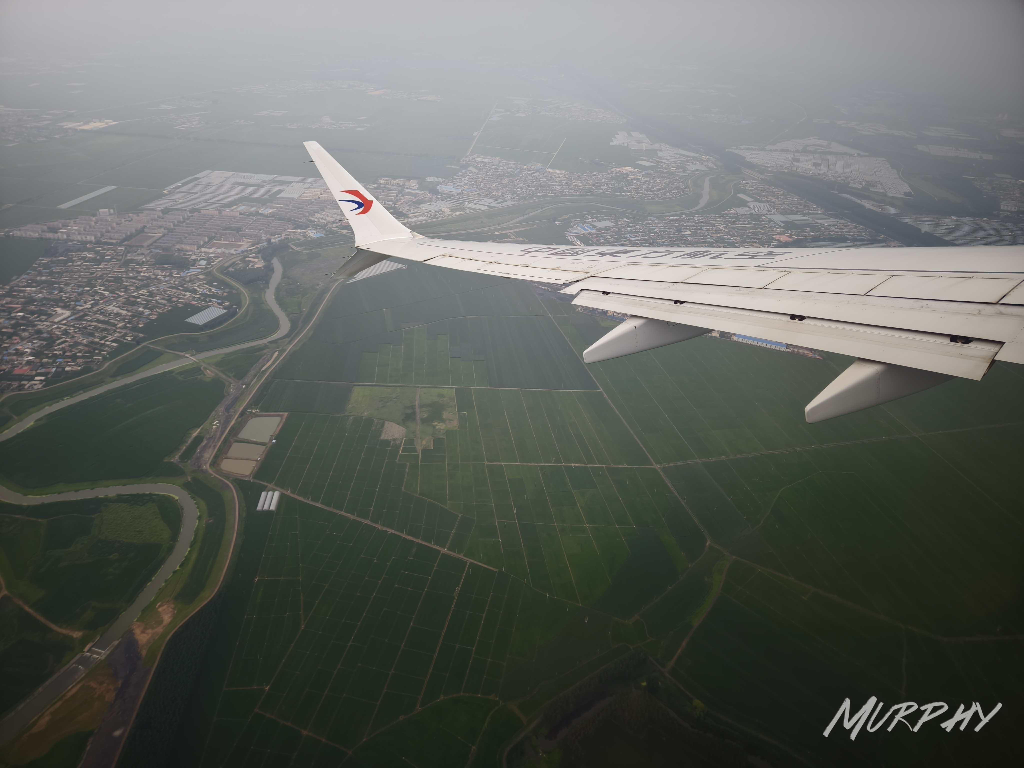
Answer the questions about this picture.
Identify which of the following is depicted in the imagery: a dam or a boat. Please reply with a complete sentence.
The one in the frame is a dam.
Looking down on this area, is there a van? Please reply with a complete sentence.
No, I can't see a single van in this photo.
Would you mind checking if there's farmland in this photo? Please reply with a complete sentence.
Yes, the picture does contain farmland.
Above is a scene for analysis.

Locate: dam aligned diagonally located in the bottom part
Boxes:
[17,635,122,717]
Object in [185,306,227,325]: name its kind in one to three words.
greenhouse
